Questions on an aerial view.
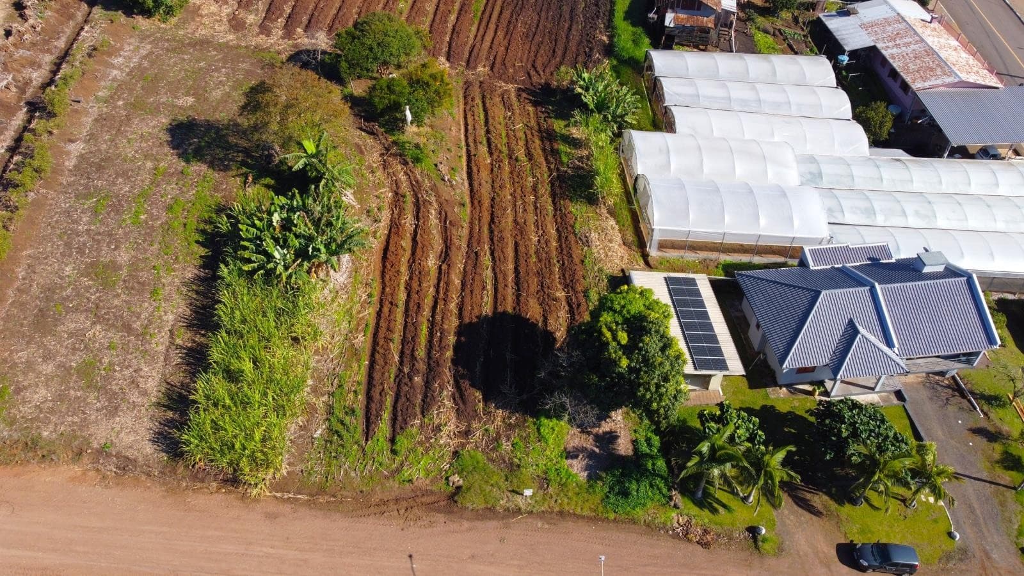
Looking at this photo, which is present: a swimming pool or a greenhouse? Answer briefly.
greenhouse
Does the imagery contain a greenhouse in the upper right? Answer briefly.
Yes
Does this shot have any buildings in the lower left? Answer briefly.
No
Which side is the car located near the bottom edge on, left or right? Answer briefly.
right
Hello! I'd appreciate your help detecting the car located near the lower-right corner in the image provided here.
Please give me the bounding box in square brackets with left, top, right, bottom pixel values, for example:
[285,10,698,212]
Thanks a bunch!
[852,537,924,576]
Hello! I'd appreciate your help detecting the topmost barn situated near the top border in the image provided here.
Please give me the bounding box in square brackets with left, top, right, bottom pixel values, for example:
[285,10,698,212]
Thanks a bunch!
[648,0,738,45]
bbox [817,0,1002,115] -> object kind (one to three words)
house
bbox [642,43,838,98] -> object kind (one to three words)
greenhouse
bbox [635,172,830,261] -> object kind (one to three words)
greenhouse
